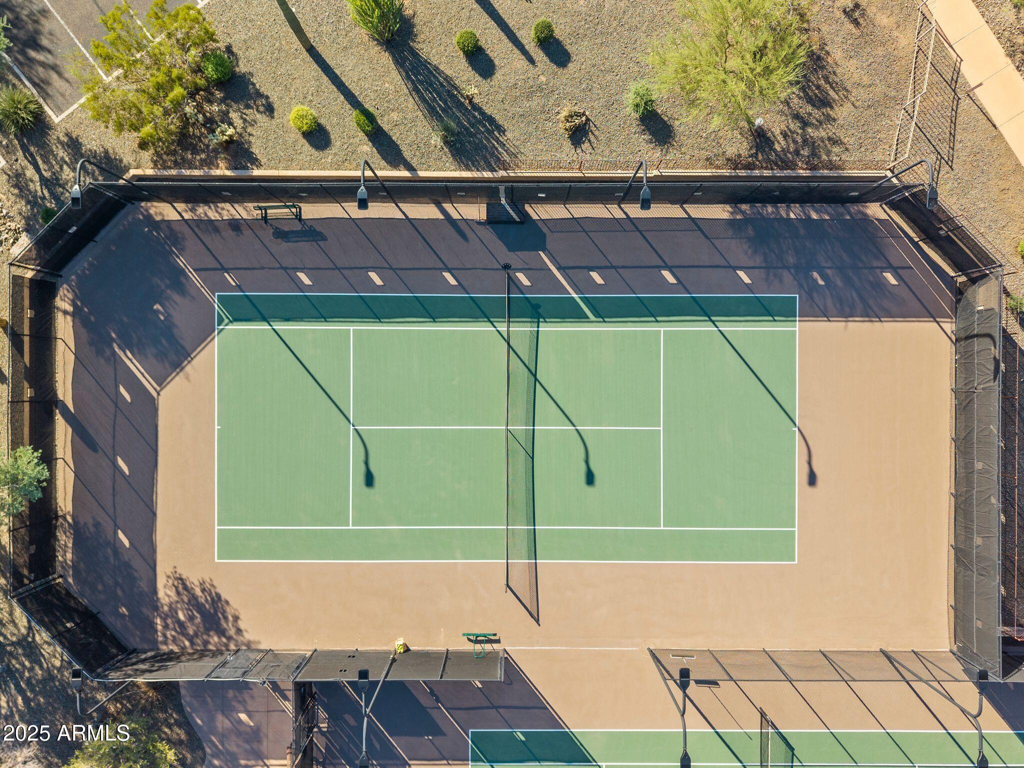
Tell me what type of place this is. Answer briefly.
sports ground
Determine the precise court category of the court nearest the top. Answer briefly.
tennis court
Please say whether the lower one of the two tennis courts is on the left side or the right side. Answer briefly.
right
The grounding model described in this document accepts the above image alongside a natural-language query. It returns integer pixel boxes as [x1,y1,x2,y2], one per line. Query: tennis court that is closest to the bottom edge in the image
[313,649,1024,768]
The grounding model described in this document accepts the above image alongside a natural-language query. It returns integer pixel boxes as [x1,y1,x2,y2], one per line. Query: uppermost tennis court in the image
[56,199,957,652]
